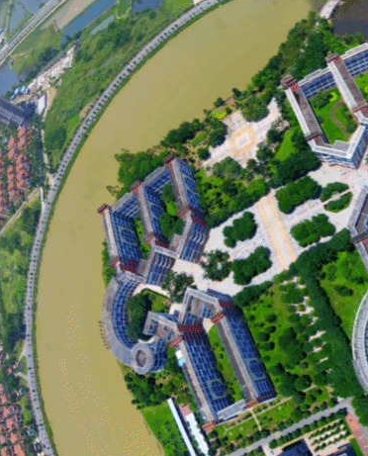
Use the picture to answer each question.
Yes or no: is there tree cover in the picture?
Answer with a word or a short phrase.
Yes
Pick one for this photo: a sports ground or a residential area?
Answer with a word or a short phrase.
residential area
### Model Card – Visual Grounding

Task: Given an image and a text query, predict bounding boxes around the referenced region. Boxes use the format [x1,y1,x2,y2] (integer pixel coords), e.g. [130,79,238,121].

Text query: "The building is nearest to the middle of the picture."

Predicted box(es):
[93,151,206,285]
